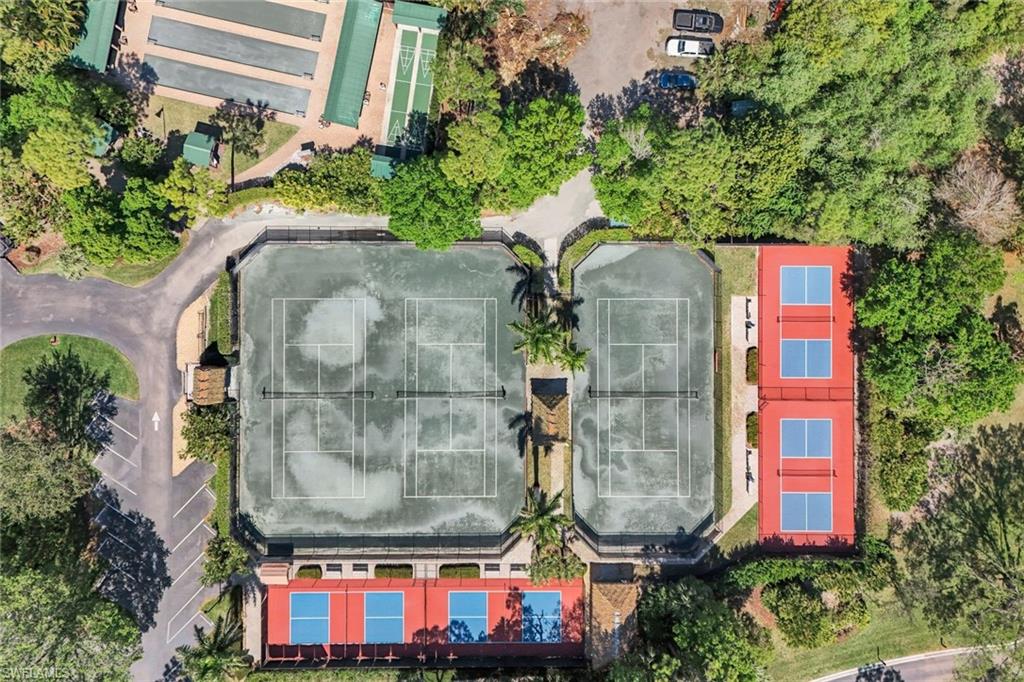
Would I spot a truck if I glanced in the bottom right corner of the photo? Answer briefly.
No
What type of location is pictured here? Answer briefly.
sports ground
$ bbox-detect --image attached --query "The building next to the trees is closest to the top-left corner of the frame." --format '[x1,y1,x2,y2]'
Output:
[70,0,135,81]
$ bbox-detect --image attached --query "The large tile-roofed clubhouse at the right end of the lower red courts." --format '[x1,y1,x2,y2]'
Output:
[589,575,639,665]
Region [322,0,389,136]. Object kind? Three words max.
building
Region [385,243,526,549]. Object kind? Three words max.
tennis court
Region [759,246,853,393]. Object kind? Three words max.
sports court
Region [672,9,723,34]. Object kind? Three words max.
truck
